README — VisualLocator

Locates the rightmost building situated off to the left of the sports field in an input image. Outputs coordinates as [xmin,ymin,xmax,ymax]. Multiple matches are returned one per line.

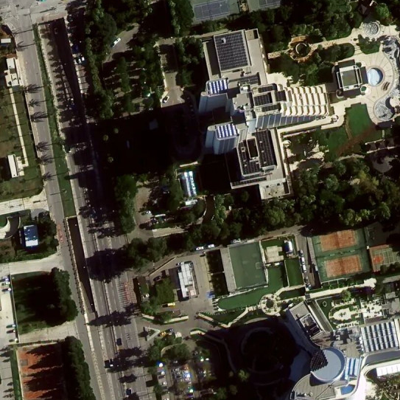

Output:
[178,262,197,300]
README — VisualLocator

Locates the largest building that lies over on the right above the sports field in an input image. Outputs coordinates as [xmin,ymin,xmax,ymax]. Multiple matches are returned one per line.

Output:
[197,28,334,203]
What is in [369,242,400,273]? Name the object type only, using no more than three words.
sports court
